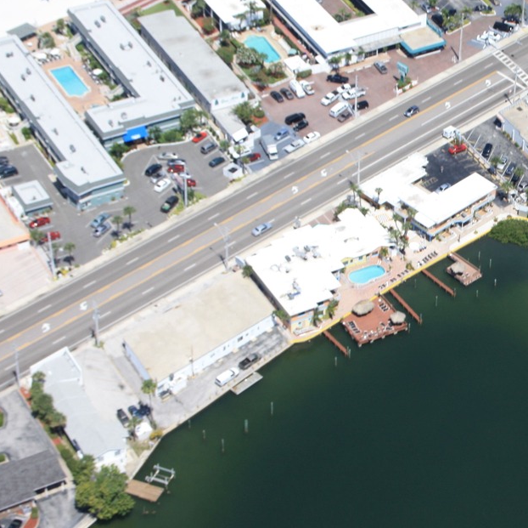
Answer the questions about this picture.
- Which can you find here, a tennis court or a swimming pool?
swimming pool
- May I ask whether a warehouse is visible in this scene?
Yes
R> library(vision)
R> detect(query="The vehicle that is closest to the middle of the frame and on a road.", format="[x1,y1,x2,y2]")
[252,221,272,234]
